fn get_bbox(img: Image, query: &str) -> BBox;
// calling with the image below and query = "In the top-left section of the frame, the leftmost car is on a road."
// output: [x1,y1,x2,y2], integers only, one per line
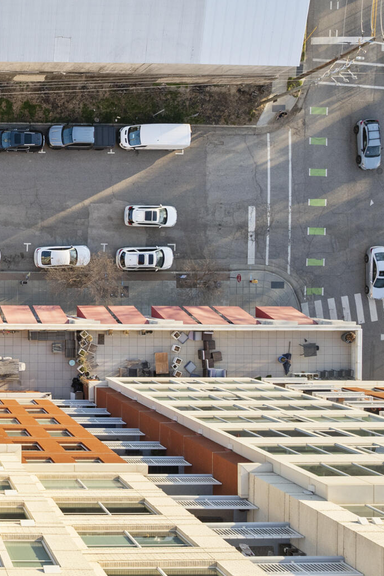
[0,126,45,154]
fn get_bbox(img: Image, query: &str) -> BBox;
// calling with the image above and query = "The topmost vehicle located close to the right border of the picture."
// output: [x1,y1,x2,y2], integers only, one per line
[353,119,383,171]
